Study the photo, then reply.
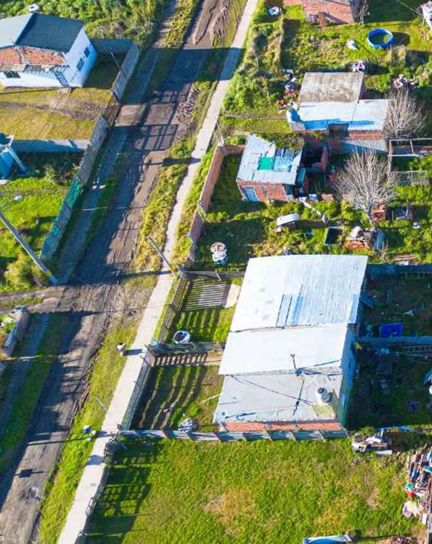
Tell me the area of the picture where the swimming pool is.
top right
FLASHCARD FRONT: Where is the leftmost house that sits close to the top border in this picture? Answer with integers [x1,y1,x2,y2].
[0,13,101,88]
